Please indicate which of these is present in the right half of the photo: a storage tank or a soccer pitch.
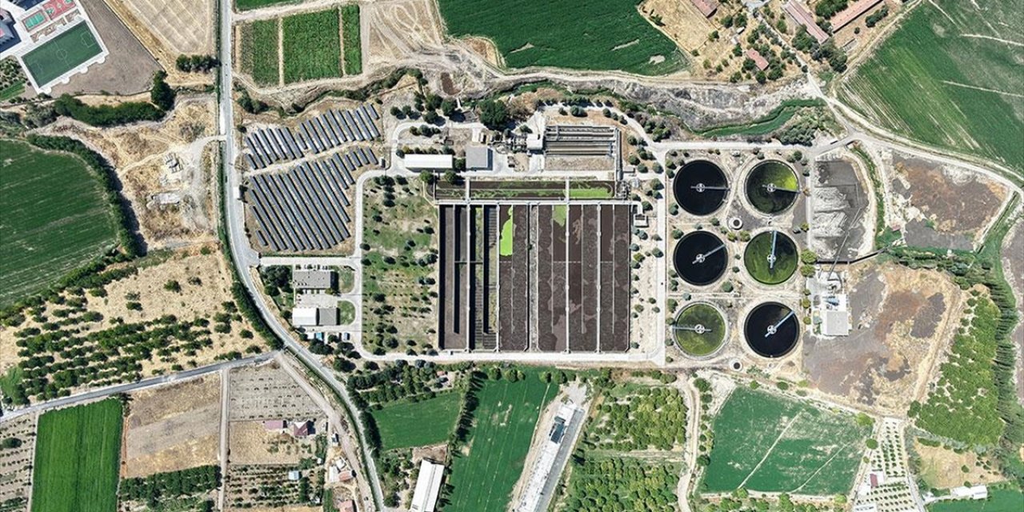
storage tank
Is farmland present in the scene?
Yes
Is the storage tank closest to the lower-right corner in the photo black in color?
Yes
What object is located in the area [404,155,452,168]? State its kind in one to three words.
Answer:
building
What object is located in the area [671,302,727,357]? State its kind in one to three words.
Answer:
storage tank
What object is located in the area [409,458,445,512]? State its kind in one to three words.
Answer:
shed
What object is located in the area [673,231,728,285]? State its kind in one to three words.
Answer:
storage tank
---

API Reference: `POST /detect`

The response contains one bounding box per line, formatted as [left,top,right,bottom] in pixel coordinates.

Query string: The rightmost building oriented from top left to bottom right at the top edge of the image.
[784,1,828,43]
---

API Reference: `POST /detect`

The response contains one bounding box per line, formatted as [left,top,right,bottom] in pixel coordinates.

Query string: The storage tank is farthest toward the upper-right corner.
[745,160,802,215]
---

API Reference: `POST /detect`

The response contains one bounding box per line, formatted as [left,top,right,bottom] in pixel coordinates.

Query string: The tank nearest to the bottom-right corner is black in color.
[744,302,800,359]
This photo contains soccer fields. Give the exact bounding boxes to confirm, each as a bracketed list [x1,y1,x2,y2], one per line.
[22,20,102,87]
